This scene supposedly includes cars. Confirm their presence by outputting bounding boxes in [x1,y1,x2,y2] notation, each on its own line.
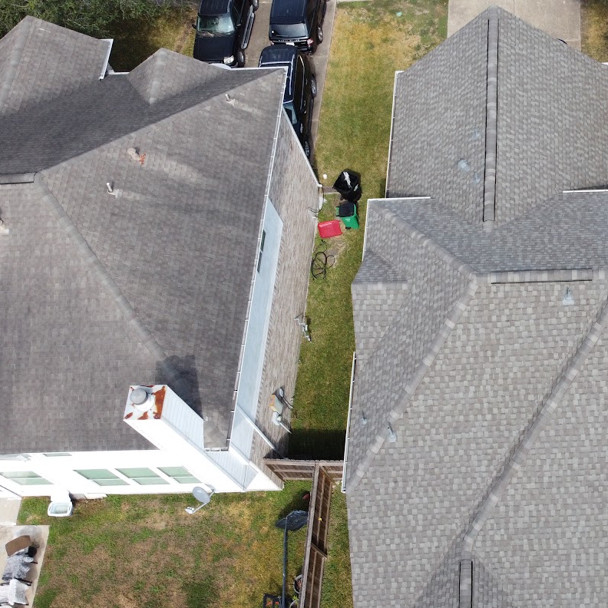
[263,50,318,156]
[189,0,258,74]
[265,0,326,54]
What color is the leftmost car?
black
